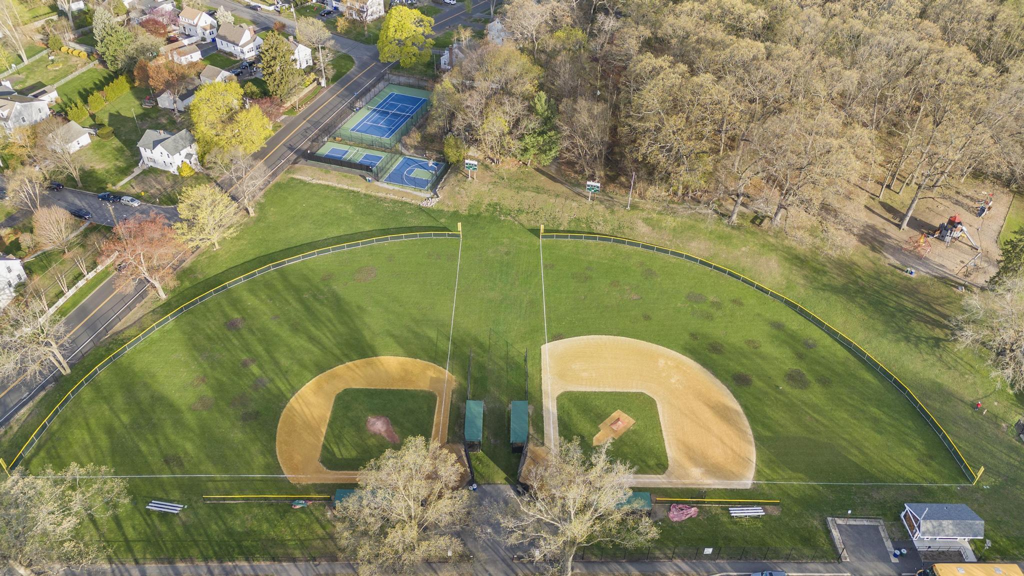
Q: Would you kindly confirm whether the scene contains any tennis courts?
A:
Yes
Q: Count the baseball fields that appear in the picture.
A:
2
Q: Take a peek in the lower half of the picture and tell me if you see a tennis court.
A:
No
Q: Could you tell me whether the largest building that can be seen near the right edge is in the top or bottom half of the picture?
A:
bottom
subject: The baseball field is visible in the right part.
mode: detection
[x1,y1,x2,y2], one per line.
[521,239,973,496]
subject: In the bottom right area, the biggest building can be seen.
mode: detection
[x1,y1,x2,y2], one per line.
[897,503,986,549]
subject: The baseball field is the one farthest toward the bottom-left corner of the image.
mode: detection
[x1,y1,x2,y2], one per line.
[11,237,474,495]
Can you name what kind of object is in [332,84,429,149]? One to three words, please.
tennis court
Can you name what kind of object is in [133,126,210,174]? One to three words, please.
house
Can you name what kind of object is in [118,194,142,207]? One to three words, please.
vehicle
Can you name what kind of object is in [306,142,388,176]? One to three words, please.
sports court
